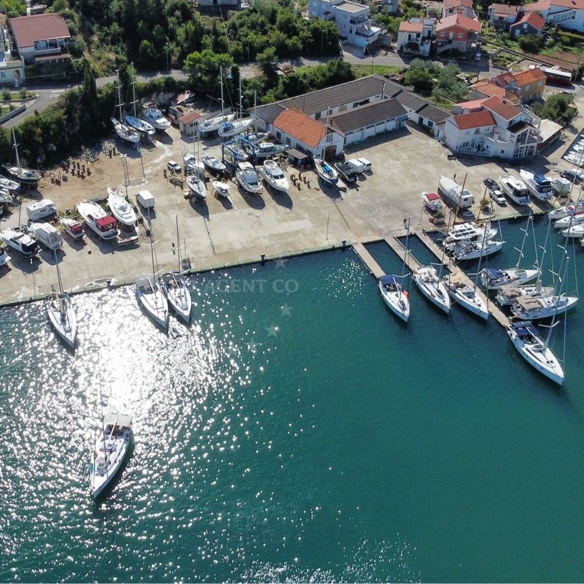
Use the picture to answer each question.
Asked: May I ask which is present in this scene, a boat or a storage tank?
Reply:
boat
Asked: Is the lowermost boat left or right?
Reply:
left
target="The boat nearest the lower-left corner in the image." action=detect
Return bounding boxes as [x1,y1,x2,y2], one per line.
[91,356,136,497]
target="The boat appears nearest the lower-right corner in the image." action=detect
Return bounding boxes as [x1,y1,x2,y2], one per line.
[507,273,565,381]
